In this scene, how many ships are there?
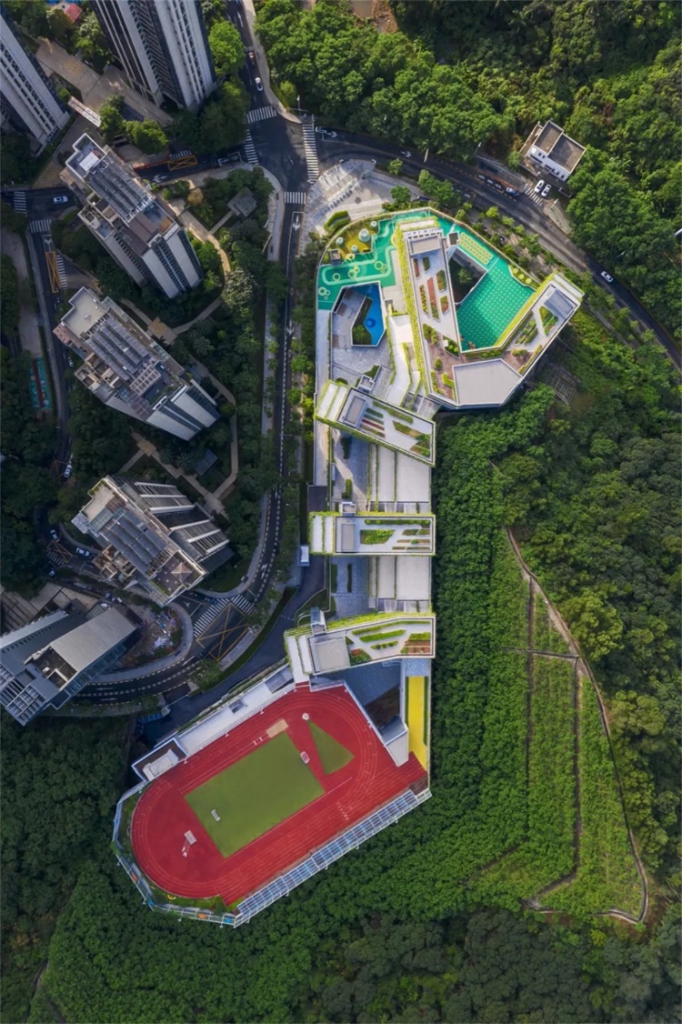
zero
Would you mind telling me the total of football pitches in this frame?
1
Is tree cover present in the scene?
Yes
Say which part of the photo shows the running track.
bottom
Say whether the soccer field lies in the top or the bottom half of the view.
bottom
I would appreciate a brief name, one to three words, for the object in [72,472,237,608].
building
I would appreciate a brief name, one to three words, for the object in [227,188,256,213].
building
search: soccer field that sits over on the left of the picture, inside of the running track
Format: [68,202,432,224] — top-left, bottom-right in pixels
[185,732,325,857]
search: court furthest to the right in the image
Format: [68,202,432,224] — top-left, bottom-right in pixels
[458,260,535,350]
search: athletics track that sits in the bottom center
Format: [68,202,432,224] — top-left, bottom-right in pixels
[130,684,427,906]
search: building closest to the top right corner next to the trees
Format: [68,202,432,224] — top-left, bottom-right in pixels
[522,121,586,182]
